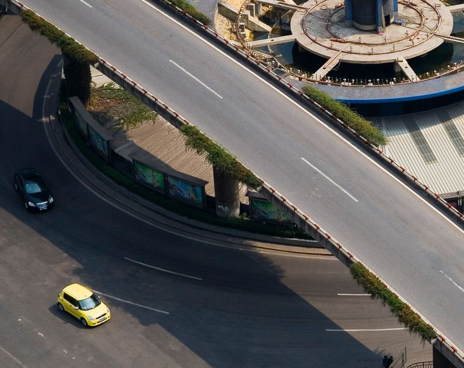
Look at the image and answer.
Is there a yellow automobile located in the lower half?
Yes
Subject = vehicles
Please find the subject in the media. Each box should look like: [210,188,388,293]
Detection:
[12,167,54,214]
[55,280,108,327]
